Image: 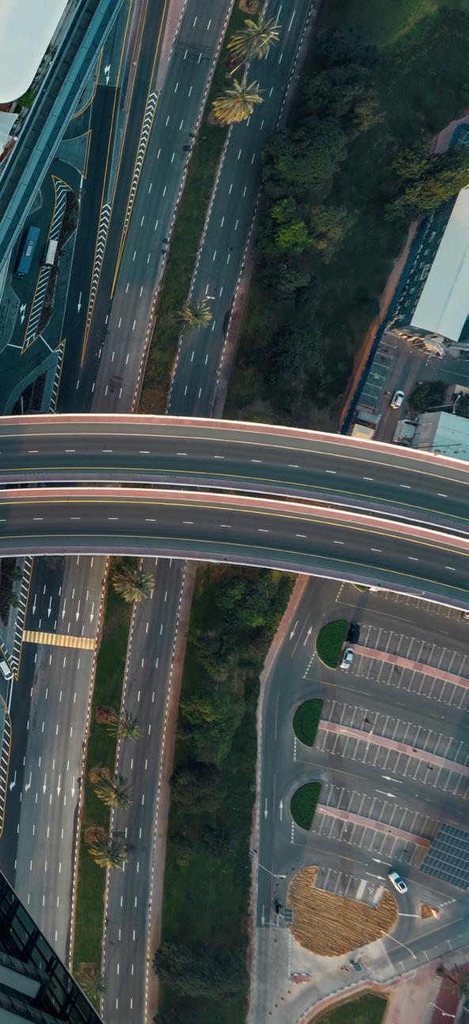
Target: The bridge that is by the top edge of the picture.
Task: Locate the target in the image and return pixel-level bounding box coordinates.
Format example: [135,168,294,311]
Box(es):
[0,0,119,273]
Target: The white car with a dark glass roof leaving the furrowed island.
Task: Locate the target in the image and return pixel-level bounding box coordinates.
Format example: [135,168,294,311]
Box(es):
[390,872,408,893]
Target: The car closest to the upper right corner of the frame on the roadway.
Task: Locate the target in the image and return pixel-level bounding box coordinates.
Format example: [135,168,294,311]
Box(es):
[392,389,404,408]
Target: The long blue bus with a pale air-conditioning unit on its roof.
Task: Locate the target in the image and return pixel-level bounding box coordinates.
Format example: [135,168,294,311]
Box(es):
[15,225,42,276]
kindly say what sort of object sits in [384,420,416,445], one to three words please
shed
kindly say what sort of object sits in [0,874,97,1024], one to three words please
building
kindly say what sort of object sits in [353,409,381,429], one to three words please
shed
